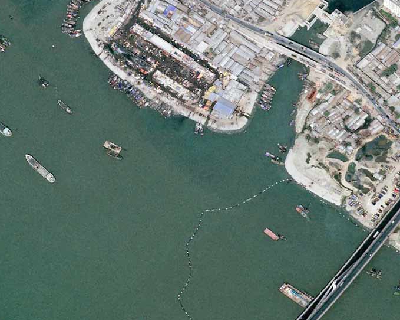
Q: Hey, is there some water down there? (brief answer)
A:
Yes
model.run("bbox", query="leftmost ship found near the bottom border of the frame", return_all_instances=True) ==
[280,283,312,309]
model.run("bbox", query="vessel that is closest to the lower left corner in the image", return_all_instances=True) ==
[25,154,55,184]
